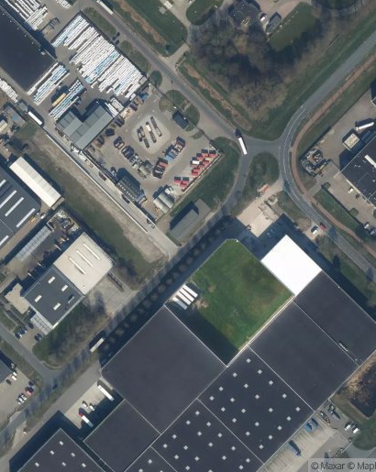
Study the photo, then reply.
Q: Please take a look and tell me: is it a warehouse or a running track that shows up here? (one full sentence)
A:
It is a warehouse that can be seen here.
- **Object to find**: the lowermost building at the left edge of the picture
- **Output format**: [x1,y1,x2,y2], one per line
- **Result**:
[15,427,104,472]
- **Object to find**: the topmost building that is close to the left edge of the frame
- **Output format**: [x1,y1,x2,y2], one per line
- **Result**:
[0,7,56,92]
